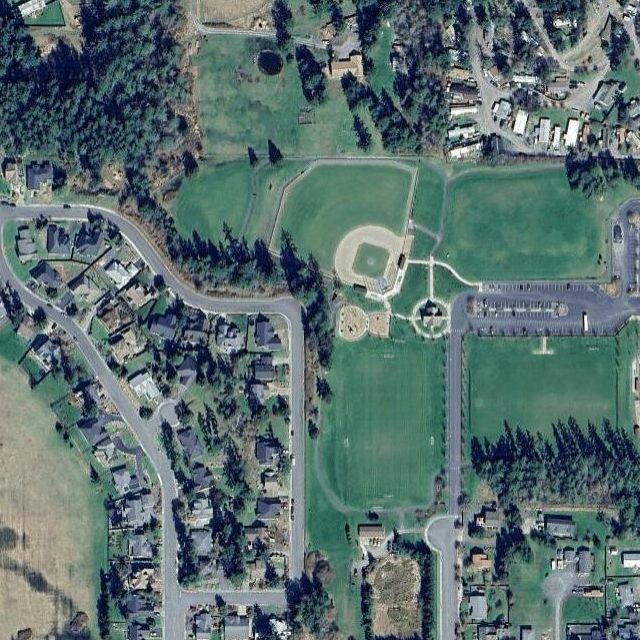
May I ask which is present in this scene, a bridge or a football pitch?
football pitch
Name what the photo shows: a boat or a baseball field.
baseball field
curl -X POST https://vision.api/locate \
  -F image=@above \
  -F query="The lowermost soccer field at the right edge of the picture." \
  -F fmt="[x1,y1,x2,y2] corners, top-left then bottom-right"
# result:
[470,340,616,433]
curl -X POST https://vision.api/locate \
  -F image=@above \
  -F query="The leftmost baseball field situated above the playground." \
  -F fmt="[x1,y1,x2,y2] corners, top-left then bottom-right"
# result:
[265,158,419,295]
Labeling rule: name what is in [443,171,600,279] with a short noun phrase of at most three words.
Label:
soccer field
